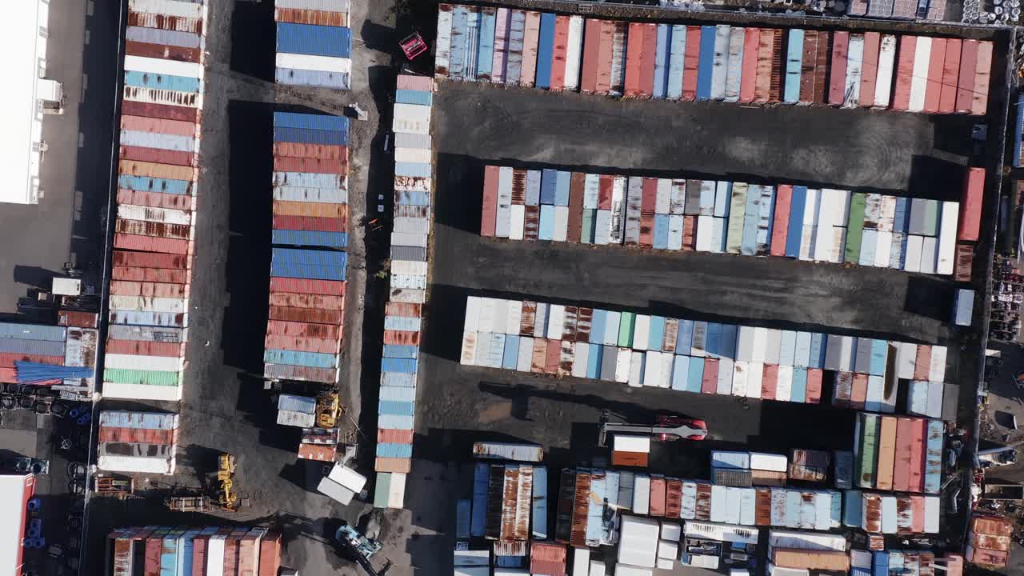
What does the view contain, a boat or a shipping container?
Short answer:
shipping container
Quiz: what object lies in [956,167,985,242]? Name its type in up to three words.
shipping container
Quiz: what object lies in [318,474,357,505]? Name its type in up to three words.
shipping container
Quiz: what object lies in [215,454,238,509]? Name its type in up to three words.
work vehicle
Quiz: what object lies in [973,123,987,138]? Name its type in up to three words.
vehicle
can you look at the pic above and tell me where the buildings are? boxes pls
[0,471,37,576]
[0,0,52,205]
